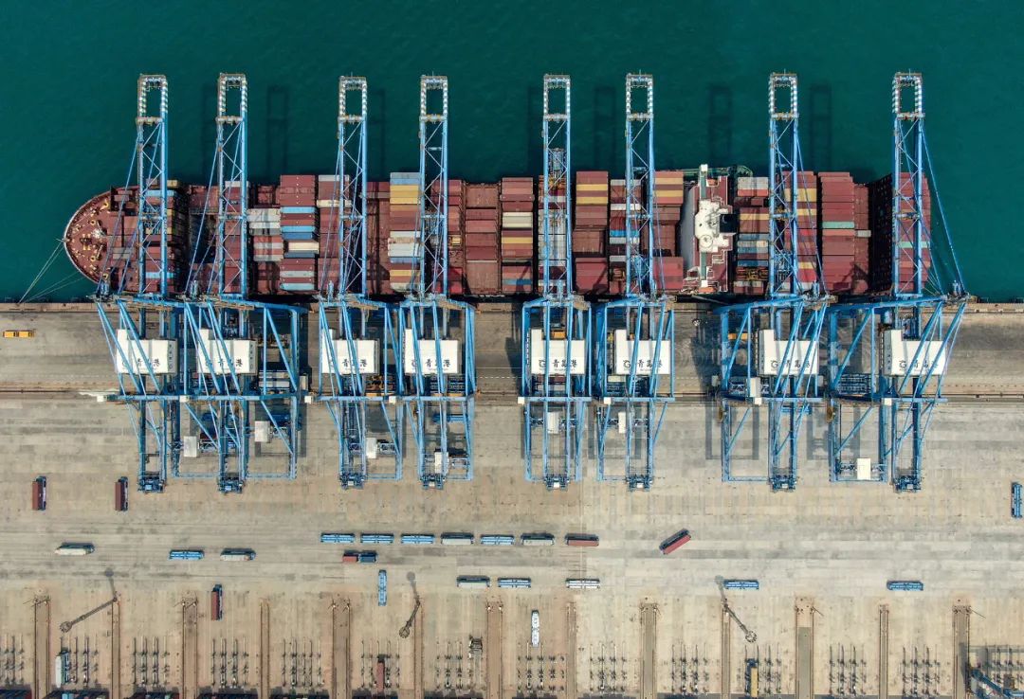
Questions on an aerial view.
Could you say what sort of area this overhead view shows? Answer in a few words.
port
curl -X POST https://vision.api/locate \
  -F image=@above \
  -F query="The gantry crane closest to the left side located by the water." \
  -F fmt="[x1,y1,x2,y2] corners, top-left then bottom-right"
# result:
[83,67,240,489]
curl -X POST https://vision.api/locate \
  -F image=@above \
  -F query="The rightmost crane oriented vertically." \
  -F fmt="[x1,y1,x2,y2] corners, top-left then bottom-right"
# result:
[800,69,979,489]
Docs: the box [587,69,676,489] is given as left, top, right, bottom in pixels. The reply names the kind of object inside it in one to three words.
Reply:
container crane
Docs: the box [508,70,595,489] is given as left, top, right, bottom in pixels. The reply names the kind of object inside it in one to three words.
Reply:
container crane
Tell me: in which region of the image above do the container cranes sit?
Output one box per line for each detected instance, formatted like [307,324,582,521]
[508,70,595,489]
[587,69,676,489]
[310,68,416,489]
[83,67,240,489]
[697,69,839,489]
[174,70,323,489]
[800,69,979,489]
[394,67,490,489]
